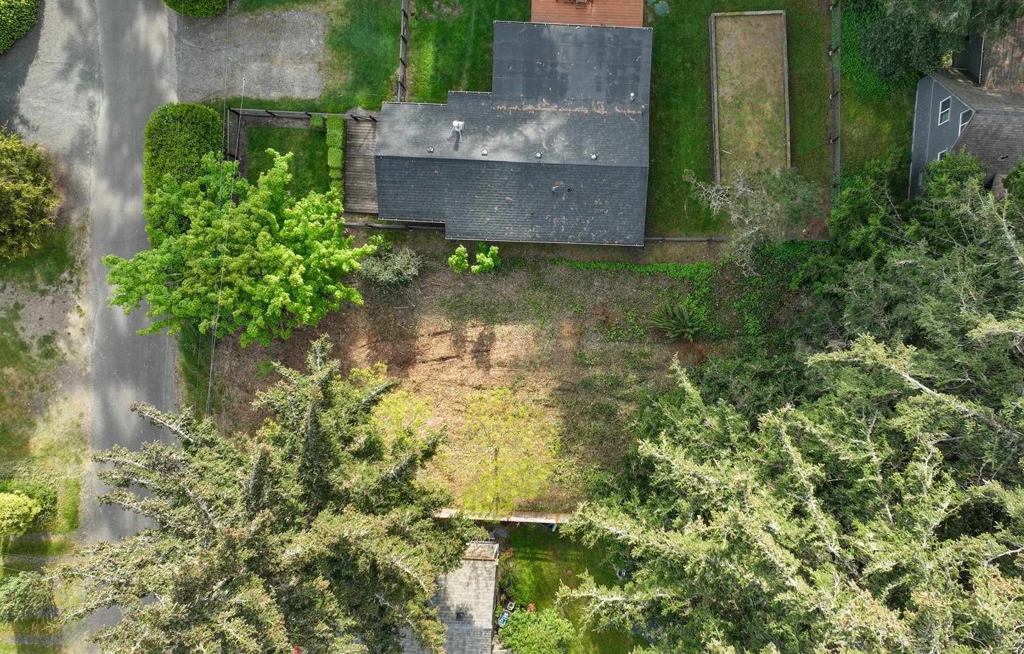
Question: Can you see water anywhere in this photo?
No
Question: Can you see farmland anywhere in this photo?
No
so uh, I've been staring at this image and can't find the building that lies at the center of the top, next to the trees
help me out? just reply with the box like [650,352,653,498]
[372,20,651,251]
